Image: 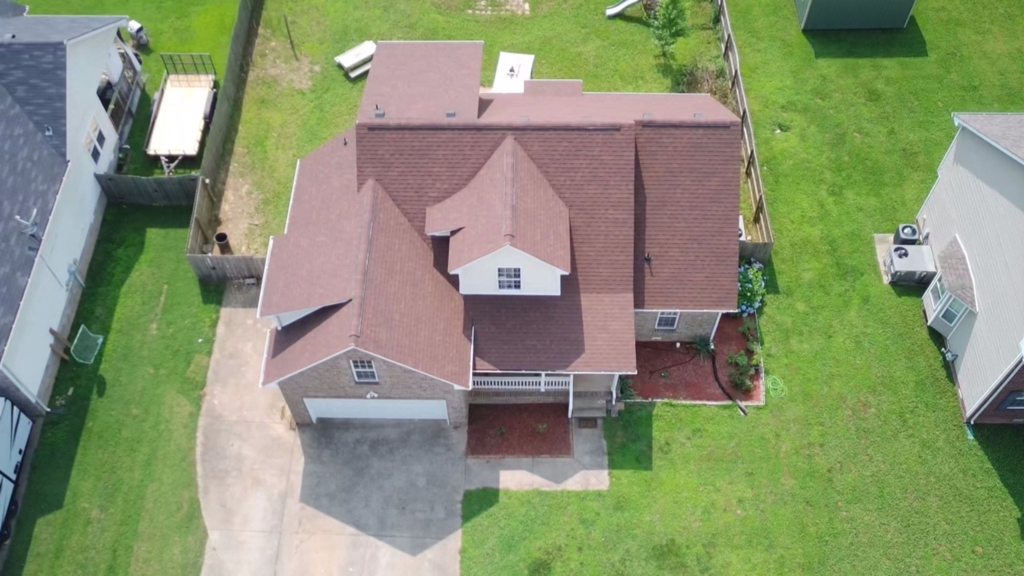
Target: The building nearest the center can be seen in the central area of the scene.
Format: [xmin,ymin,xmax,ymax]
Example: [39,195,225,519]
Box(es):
[255,39,741,426]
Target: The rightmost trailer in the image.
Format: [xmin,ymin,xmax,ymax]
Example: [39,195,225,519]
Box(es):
[143,56,218,176]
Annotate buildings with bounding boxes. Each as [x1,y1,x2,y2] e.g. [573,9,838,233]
[255,39,741,426]
[914,112,1024,428]
[795,0,920,29]
[0,0,140,414]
